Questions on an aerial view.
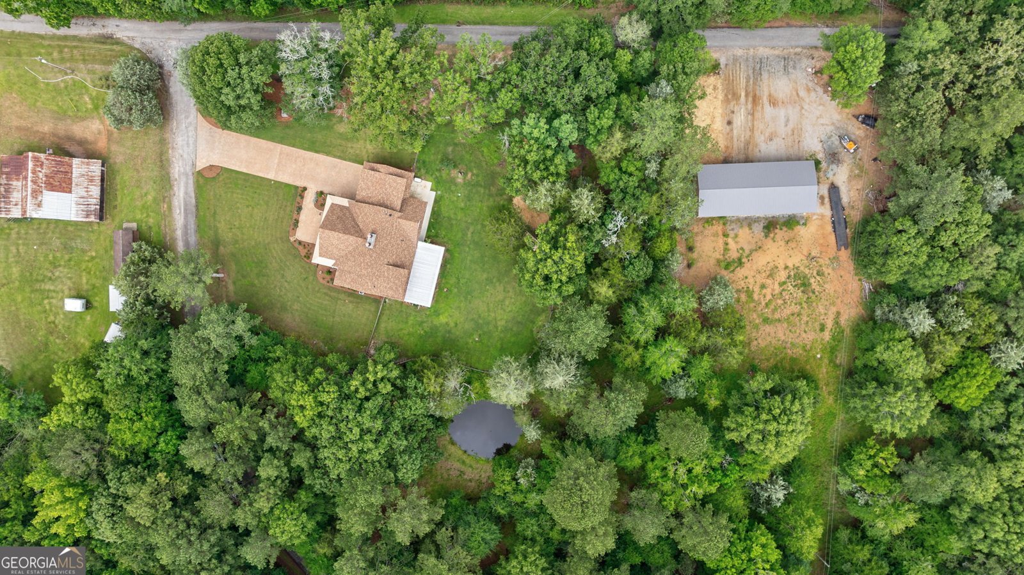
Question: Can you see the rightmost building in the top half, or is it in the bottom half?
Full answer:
It is in the top half that the rightmost building appears.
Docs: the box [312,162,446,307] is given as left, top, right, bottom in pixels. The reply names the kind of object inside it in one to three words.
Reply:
house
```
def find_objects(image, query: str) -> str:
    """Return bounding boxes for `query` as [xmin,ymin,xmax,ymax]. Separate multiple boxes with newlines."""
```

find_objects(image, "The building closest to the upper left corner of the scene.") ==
[0,151,111,221]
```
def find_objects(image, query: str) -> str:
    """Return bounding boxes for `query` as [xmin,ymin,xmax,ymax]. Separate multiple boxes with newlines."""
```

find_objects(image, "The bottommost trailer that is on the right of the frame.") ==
[829,181,848,251]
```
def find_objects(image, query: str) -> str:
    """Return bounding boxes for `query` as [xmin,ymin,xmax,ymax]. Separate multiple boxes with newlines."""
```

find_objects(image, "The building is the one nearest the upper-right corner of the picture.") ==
[693,160,818,219]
